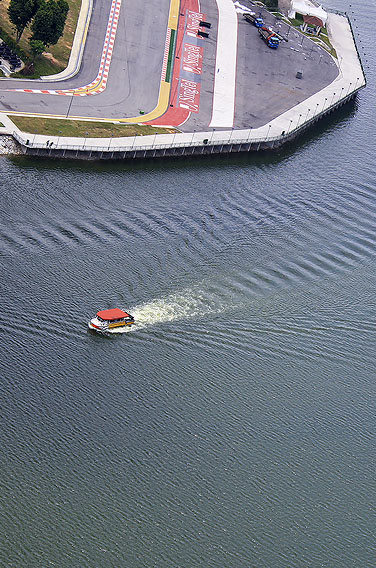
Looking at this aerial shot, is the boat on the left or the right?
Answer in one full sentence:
You can find the boat on the left side of the picture.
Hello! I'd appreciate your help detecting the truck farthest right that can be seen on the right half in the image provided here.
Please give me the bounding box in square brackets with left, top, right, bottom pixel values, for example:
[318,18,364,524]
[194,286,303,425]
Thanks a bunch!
[260,27,286,49]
